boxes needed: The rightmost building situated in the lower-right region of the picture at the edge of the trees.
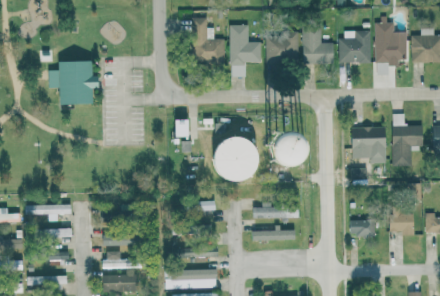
[426,212,440,234]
